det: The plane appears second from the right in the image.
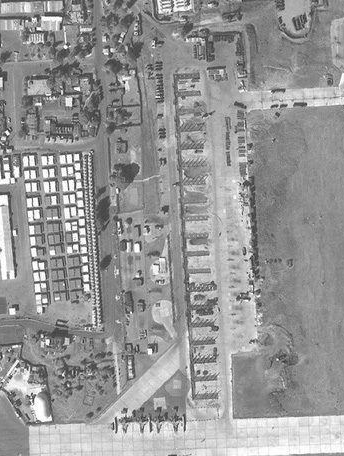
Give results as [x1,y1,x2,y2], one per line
[151,411,164,430]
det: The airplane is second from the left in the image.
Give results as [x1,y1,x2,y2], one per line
[135,411,148,432]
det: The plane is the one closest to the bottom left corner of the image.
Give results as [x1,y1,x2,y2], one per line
[118,412,133,433]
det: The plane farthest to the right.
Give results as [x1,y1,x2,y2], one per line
[169,411,182,430]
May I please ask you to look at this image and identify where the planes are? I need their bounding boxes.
[118,412,133,433]
[169,411,182,430]
[135,411,148,432]
[151,411,164,430]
